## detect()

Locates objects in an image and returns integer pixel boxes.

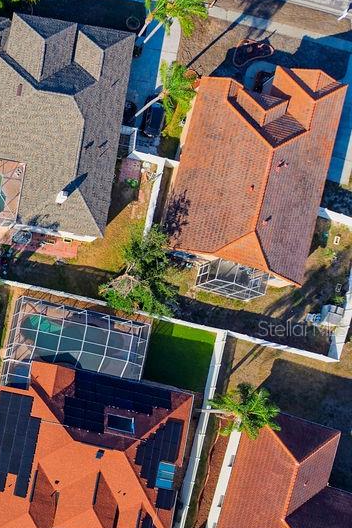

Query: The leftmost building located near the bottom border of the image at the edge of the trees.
[0,361,193,528]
